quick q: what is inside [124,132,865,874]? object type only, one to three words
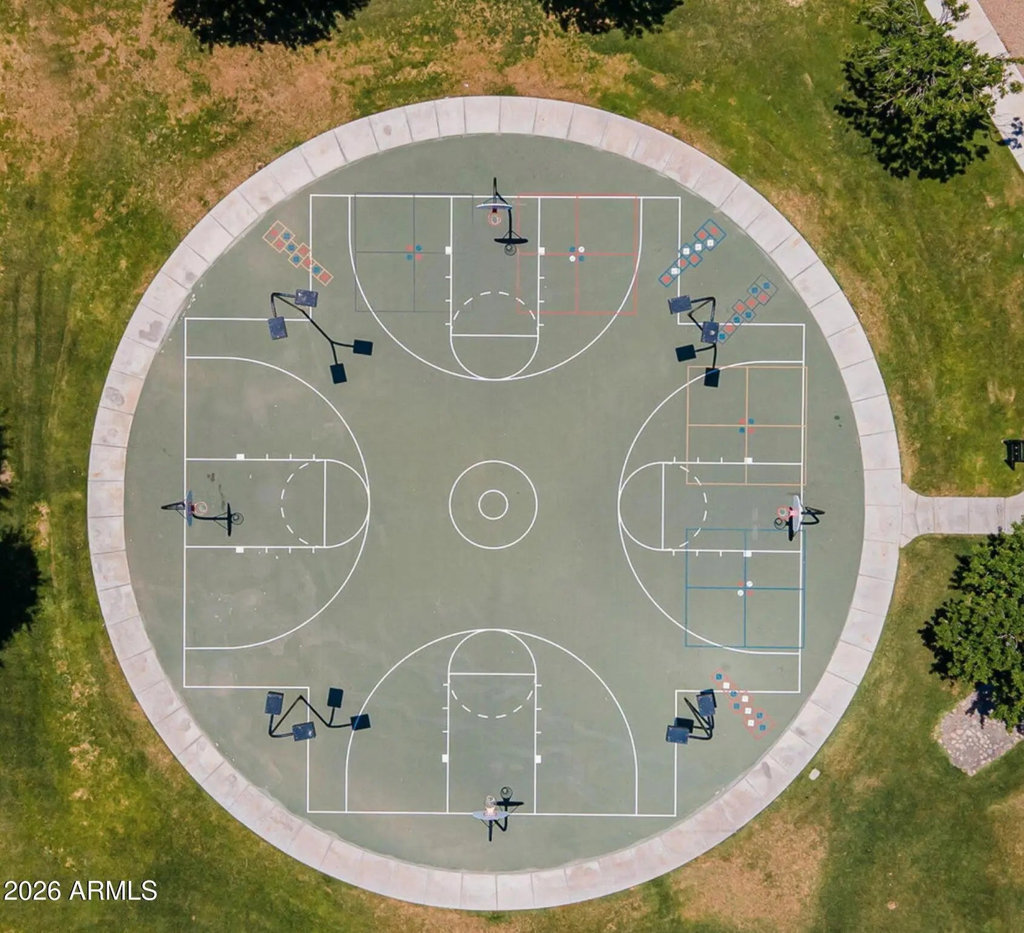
sports court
